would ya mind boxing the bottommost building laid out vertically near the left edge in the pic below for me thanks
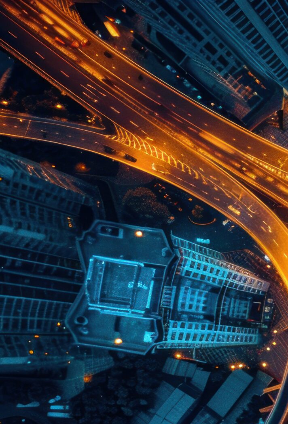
[0,155,98,380]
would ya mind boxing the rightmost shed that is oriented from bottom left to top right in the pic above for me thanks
[205,366,260,419]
